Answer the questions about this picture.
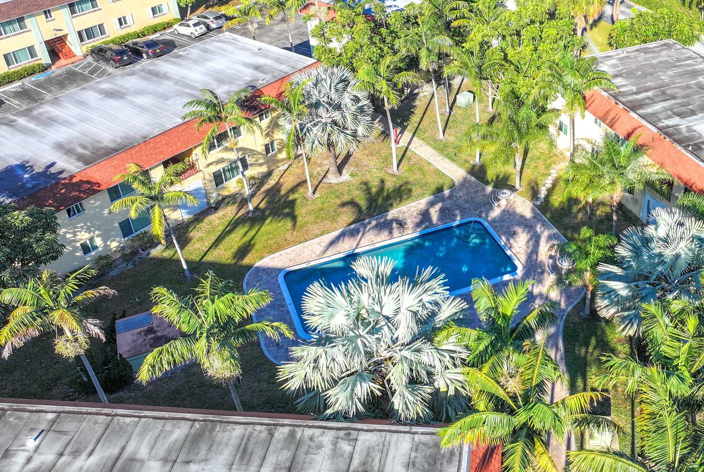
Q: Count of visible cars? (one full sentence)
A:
Looking from above, you can make out 4 cars.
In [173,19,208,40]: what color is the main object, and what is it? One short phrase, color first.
white car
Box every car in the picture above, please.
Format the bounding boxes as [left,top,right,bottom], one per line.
[173,19,208,40]
[195,11,234,33]
[92,45,138,72]
[121,39,165,62]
